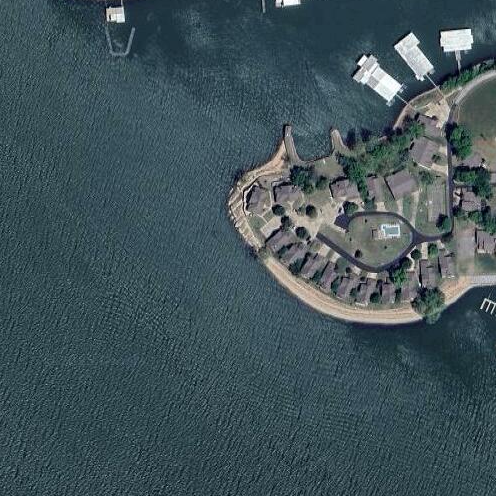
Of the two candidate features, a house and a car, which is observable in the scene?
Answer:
house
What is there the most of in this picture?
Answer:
water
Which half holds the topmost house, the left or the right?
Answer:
right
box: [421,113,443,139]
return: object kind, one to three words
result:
house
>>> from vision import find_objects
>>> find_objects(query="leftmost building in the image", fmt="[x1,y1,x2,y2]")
[245,186,271,216]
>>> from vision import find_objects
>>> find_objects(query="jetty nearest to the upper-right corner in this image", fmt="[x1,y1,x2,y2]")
[440,30,473,73]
